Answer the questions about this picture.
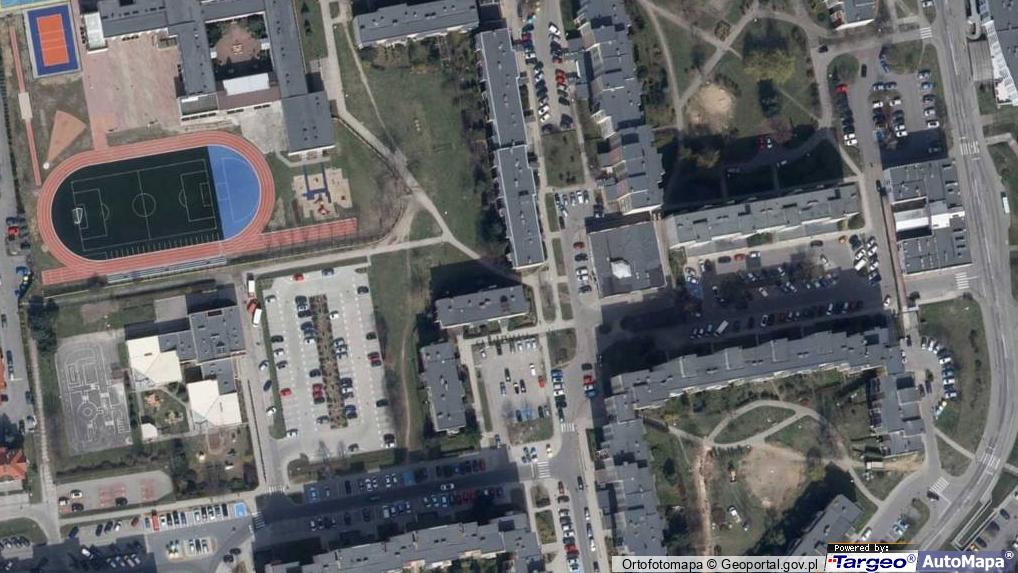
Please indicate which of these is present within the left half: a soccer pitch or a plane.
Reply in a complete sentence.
Looking within the left half, you will find a soccer pitch.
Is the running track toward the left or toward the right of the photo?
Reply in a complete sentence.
The running track is on the left side of the image.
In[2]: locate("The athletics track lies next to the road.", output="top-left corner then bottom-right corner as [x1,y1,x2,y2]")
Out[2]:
[39,132,358,285]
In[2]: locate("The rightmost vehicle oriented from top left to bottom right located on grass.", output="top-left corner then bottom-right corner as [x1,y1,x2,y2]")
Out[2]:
[728,507,742,524]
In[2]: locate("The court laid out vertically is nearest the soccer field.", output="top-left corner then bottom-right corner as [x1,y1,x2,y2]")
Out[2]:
[206,146,260,241]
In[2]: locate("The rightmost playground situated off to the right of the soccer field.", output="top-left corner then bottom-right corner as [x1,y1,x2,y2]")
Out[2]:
[293,163,352,220]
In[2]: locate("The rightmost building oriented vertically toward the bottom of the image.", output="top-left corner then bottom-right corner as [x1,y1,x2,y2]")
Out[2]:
[868,345,925,459]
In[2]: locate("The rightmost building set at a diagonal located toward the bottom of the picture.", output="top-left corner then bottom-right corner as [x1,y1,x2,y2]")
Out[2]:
[774,495,862,573]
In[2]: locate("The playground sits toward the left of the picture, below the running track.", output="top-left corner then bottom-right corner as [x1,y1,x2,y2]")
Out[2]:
[56,337,132,455]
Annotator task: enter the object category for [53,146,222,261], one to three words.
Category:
soccer field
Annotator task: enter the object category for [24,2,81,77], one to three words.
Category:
sports court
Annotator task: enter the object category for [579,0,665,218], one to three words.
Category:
building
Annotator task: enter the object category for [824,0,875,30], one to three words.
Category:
building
